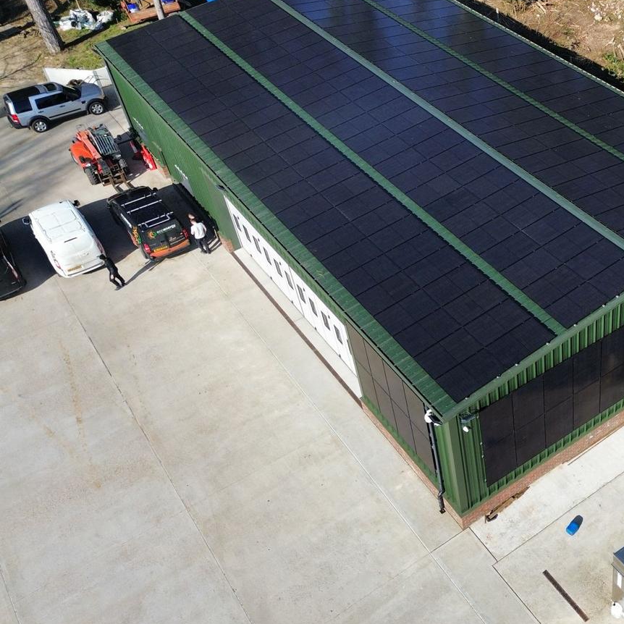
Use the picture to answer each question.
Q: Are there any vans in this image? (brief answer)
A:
Yes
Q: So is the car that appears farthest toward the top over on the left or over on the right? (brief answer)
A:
left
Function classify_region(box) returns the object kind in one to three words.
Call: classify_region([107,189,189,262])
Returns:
van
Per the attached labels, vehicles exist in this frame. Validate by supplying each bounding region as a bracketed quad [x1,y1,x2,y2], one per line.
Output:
[59,118,132,200]
[23,203,102,275]
[107,189,189,262]
[0,79,112,132]
[0,233,25,289]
